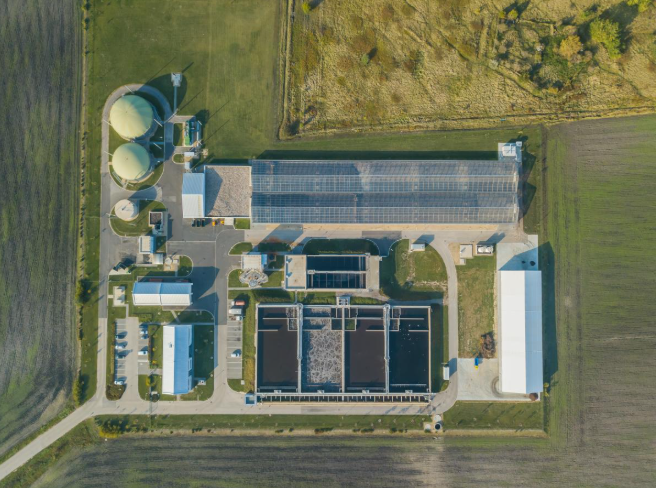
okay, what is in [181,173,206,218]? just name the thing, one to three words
building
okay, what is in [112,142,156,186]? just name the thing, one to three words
storage tank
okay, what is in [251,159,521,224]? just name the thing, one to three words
greenhouse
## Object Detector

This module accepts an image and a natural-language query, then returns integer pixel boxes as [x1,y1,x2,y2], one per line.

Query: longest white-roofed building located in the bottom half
[498,271,543,394]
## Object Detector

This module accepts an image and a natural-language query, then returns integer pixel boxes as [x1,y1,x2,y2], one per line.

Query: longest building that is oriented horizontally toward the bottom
[130,282,194,306]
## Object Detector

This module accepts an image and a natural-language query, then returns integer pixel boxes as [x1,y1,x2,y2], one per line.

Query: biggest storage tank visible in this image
[284,254,382,290]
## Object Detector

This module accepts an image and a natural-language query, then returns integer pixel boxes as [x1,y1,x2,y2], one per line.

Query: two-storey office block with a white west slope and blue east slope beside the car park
[162,323,193,396]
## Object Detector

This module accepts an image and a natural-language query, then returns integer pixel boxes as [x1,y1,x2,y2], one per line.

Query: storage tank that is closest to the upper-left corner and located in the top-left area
[110,95,160,144]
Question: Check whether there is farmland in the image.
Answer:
Yes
